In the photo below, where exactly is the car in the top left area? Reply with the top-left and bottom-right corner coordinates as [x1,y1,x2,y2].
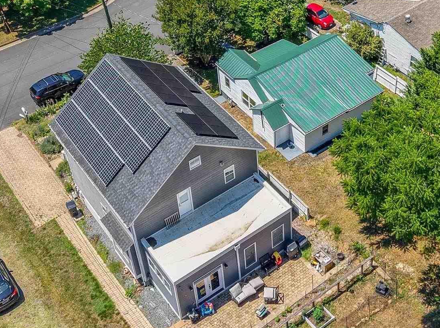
[26,67,90,105]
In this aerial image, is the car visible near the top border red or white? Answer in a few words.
red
